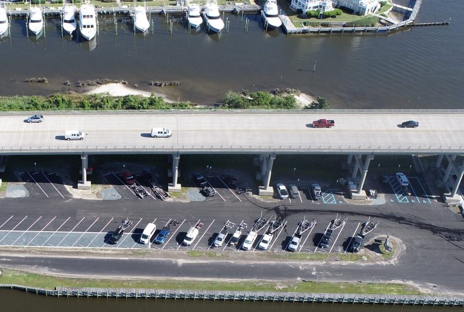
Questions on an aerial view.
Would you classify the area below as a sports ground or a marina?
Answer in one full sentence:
This looks like a marina.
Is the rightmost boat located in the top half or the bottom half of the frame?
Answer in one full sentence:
The rightmost boat sits in the top half of the picture.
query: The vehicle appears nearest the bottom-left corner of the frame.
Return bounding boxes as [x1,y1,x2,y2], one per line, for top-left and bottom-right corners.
[110,225,128,244]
